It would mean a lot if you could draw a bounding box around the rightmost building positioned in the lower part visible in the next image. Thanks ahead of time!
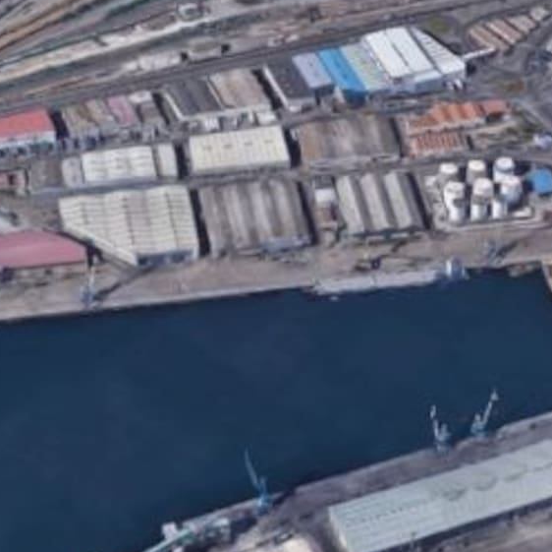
[330,441,552,552]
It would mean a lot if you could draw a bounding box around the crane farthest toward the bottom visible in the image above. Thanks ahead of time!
[251,444,274,514]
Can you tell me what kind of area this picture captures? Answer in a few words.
port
